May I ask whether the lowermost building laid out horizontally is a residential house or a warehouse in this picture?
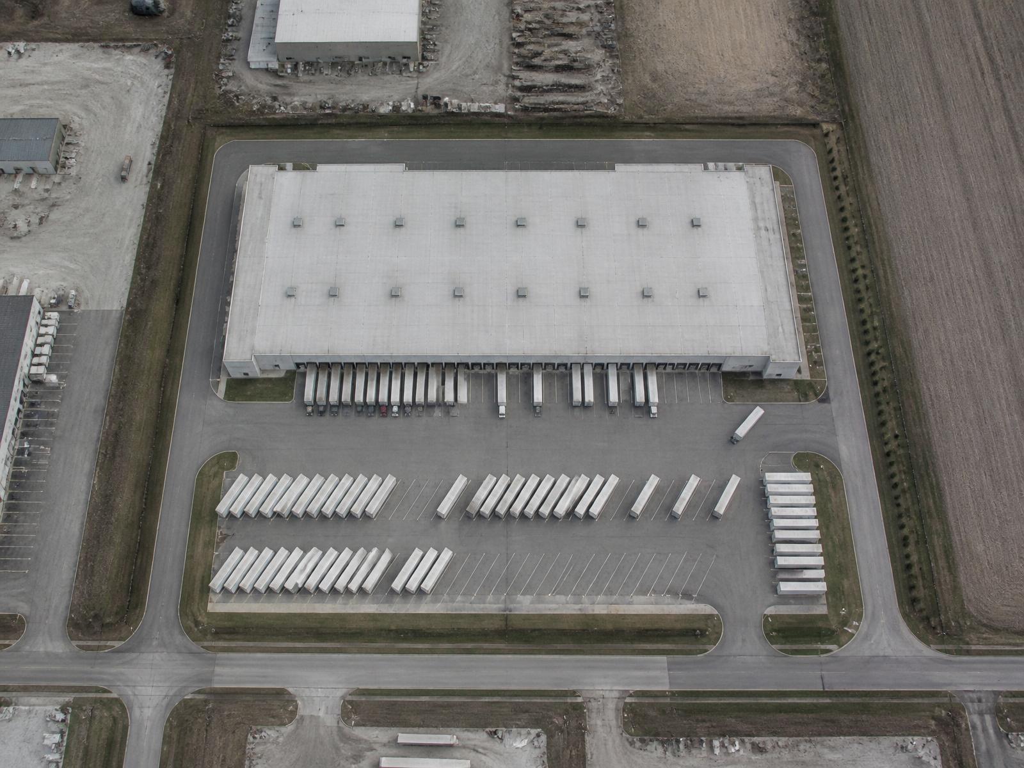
warehouse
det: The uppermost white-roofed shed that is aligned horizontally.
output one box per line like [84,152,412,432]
[271,0,420,62]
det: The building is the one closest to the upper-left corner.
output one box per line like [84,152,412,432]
[0,119,66,173]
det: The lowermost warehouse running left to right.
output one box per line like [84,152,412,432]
[222,163,801,377]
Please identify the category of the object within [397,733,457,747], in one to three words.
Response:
trailer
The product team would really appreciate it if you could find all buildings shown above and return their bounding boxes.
[0,295,41,486]
[222,163,801,377]
[0,119,66,173]
[271,0,420,62]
